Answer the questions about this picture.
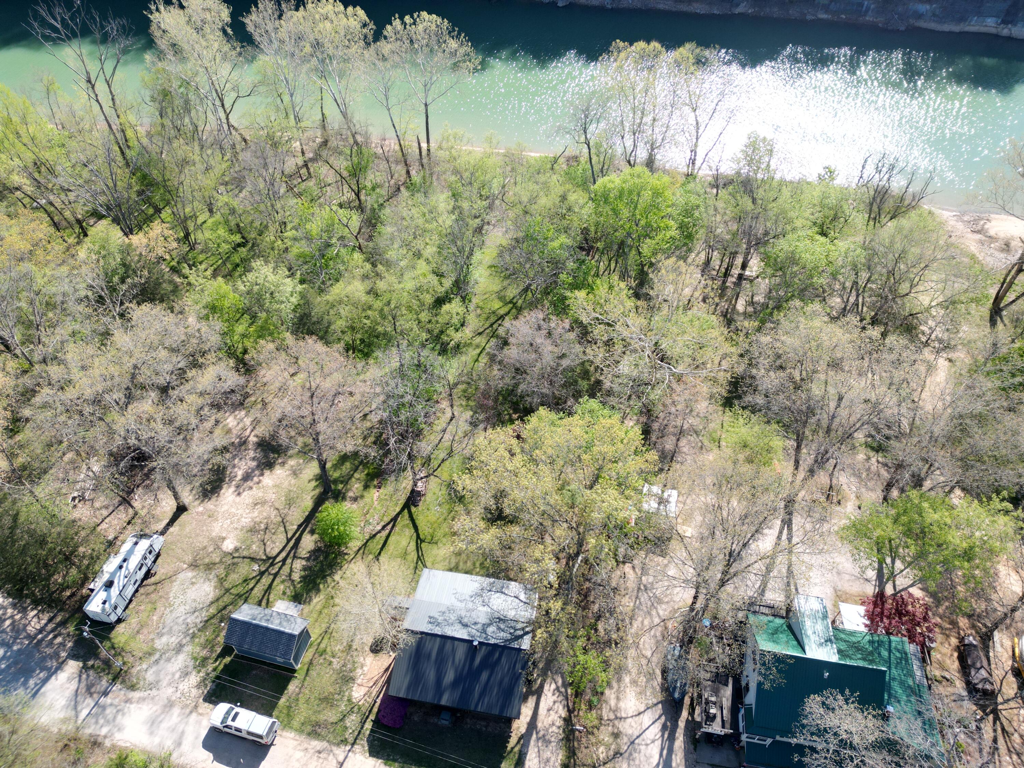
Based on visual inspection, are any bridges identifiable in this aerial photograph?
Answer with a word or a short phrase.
No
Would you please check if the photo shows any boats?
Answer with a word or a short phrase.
Yes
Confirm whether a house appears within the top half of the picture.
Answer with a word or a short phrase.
No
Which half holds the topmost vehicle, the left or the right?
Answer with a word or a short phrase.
left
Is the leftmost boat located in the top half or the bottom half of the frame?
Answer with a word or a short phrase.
bottom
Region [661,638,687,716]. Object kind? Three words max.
boat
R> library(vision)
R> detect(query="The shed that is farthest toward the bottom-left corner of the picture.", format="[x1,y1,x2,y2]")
[222,603,312,668]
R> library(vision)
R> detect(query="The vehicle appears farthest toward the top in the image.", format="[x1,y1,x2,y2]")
[84,532,165,629]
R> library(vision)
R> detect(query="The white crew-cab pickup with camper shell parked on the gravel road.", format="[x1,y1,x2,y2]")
[204,702,283,748]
